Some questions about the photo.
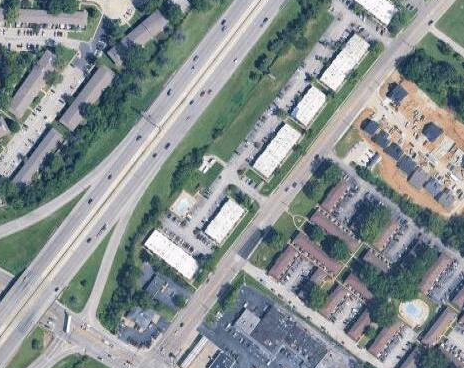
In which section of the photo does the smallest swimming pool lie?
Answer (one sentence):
The smallest swimming pool sits in the center section of the image.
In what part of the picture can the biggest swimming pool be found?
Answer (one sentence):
The biggest swimming pool appears toward the bottom right of the photo.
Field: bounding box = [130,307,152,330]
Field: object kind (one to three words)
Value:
building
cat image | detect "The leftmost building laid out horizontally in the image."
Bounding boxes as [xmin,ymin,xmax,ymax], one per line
[14,9,87,27]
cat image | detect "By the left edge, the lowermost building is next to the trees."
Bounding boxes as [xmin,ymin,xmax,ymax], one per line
[14,129,63,184]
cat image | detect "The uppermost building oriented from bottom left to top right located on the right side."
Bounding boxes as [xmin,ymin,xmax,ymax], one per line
[320,34,370,91]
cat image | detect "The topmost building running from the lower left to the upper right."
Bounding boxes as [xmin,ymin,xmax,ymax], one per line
[124,9,168,50]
